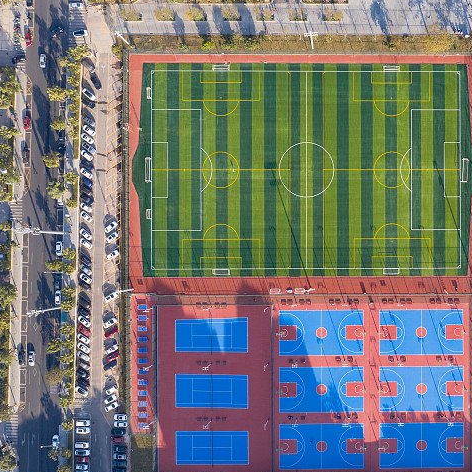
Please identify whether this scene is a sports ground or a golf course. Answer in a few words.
sports ground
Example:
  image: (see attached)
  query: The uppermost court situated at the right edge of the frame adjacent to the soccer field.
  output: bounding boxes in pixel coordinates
[380,309,464,355]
